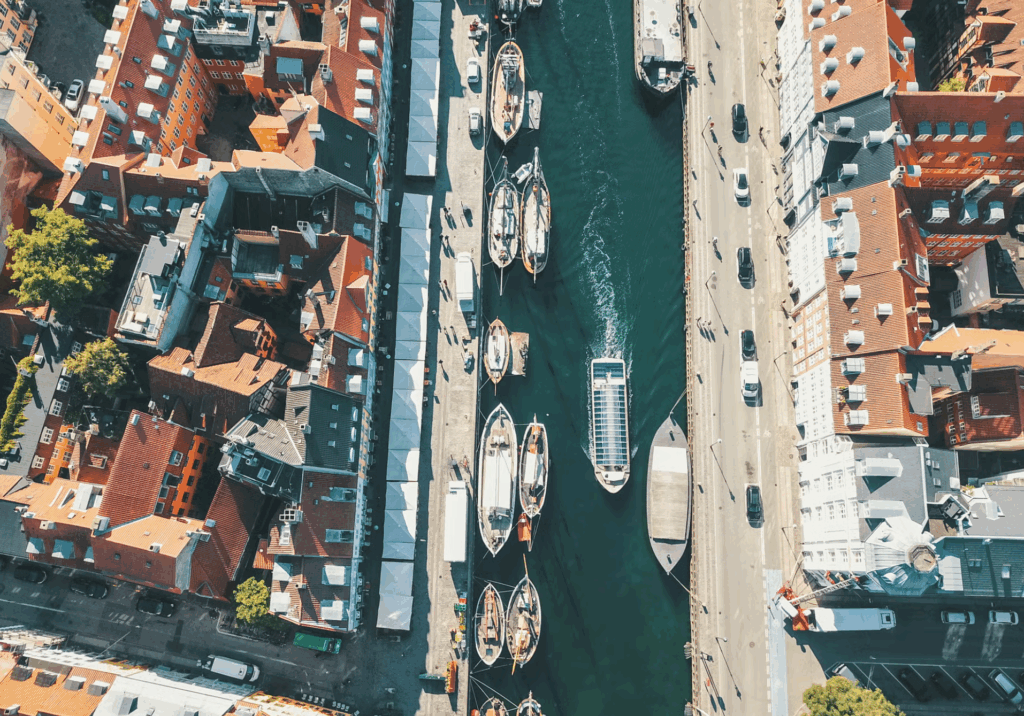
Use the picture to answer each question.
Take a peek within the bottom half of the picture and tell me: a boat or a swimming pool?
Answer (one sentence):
The feature located within the bottom half of the picture is a boat.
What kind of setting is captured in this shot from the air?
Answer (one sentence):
This looks like a residential area.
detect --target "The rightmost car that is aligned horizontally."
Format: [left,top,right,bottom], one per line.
[983,608,1023,626]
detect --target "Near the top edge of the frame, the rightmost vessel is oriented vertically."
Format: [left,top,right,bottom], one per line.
[637,0,688,115]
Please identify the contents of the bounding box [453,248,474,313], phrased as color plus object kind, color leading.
white truck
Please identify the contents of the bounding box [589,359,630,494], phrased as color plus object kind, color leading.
white boat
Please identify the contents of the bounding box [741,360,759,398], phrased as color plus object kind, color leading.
white car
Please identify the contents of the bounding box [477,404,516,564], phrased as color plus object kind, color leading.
white boat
